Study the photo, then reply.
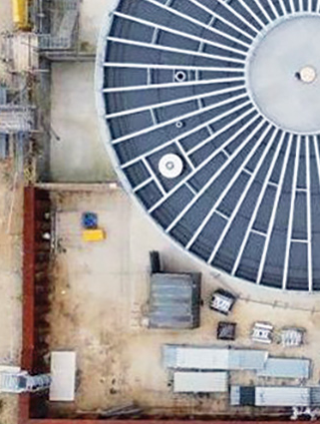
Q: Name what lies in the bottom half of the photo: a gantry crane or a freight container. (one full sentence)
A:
You can see a freight container in the bottom half of the photo.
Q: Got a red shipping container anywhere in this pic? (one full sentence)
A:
No, I find no red shipping container anywhere in the image.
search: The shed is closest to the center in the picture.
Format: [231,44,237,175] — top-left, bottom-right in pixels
[146,269,201,331]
